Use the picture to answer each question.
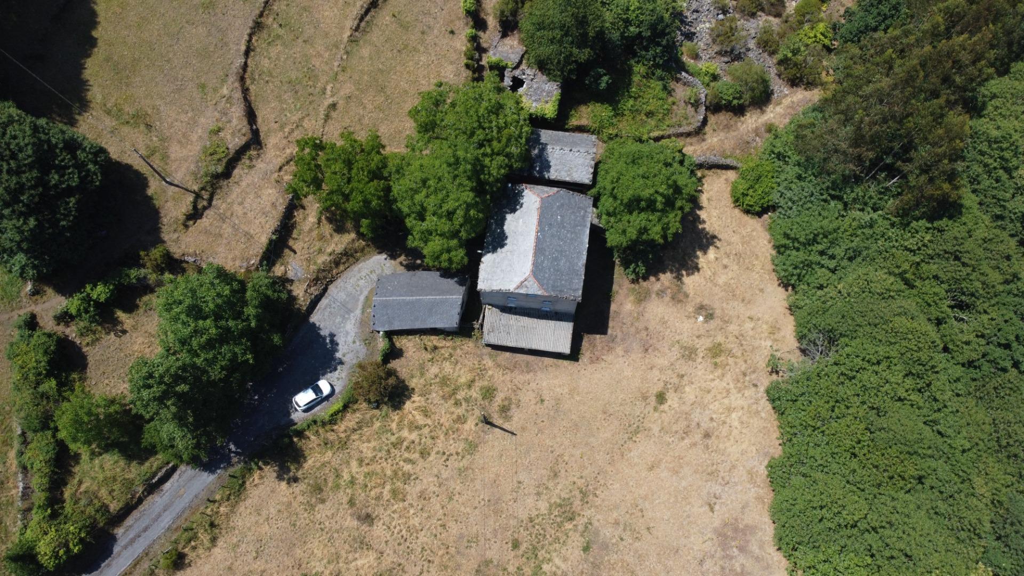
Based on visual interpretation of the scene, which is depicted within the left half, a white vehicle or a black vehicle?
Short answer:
white vehicle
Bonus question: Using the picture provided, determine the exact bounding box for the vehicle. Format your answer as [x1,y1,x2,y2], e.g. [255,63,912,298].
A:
[291,380,331,411]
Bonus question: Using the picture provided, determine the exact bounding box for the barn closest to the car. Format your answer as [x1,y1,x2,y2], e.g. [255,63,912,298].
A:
[372,271,468,334]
